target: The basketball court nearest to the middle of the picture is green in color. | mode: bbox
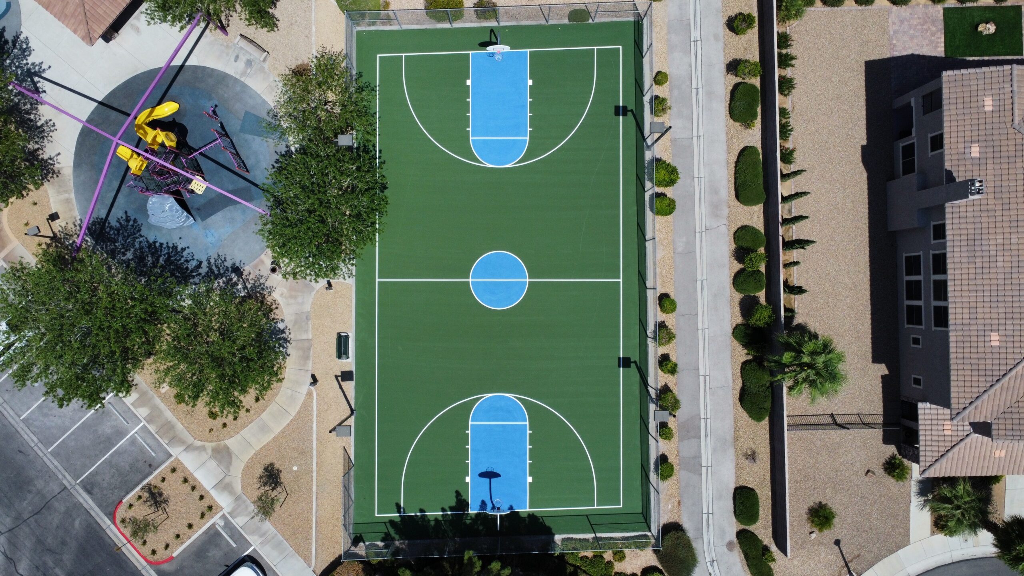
[352,22,650,542]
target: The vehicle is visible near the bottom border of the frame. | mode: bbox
[219,556,264,576]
